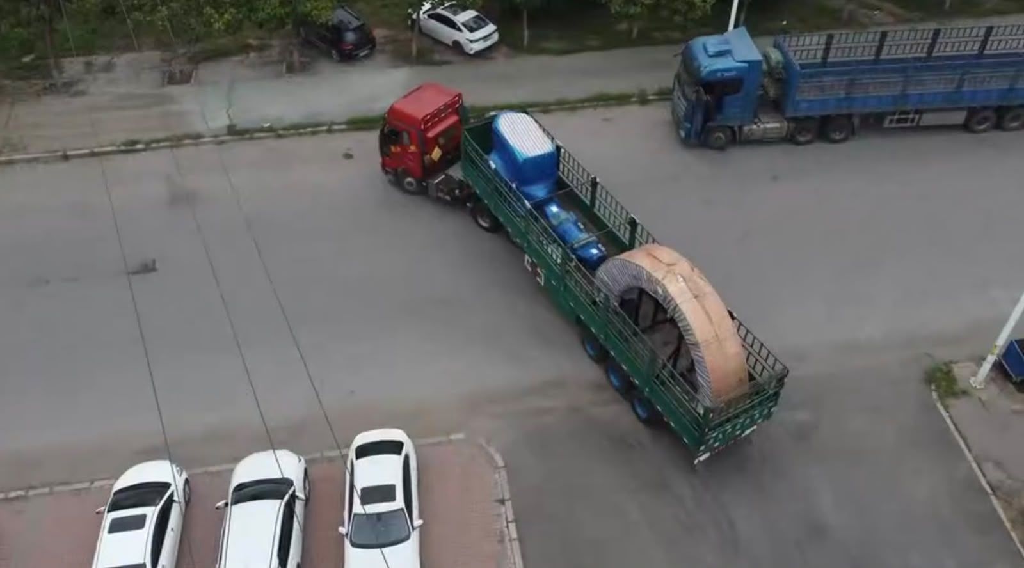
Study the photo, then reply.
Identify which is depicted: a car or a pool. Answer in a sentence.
It is a car that can be seen here.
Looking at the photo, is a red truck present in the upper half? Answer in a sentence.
Yes, in the upper half there is a red truck.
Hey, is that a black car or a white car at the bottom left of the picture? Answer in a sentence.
What appears at the bottom left of the picture is a white car.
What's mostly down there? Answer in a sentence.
The bulk of the photo consists of paved ground.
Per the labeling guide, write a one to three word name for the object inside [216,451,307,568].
car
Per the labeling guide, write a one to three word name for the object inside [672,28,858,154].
truck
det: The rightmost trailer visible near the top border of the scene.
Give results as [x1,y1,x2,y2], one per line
[770,25,1024,137]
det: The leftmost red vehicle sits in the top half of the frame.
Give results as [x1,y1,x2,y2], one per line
[378,85,518,246]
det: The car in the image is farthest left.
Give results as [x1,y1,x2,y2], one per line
[90,460,191,568]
